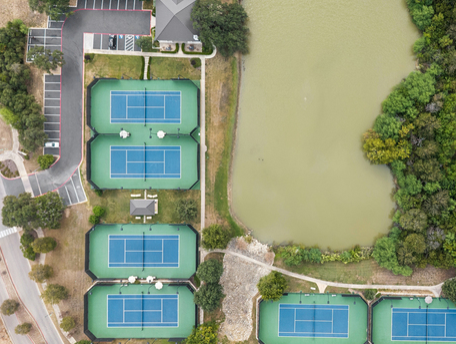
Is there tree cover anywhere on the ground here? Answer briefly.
Yes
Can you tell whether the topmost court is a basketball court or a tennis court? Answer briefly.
tennis court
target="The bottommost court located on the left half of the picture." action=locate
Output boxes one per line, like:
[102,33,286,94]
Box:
[88,285,196,338]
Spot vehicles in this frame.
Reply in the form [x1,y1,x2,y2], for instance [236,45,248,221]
[44,141,60,148]
[109,35,117,49]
